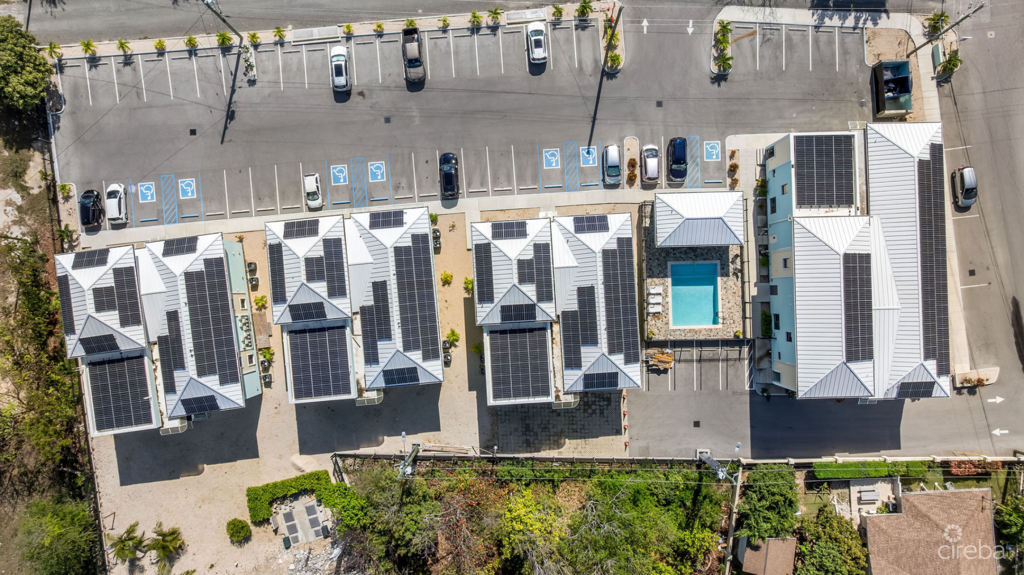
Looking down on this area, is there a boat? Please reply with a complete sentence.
No, the picture doesn't show any boat.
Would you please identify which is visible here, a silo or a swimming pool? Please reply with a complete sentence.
Visible in the photo is a swimming pool.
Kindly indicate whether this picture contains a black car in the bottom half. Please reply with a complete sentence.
No, in the bottom half there is no black car.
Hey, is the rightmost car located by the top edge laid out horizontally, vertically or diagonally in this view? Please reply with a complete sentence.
In this picture, the rightmost car located by the top edge is oriented vertically.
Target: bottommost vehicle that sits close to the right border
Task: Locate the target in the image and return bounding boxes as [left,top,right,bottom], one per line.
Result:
[949,167,976,206]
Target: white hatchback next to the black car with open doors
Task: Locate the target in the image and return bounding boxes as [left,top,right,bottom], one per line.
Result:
[104,184,130,224]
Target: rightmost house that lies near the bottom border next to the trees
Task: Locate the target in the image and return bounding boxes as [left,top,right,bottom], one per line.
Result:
[857,485,999,575]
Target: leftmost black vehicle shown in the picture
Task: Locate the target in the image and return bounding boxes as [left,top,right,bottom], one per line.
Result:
[77,191,107,228]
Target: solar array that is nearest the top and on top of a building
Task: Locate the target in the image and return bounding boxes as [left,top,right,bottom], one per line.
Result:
[796,136,853,207]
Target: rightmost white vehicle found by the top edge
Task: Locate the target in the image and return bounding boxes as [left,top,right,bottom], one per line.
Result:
[526,22,548,65]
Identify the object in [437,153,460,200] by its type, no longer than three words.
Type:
car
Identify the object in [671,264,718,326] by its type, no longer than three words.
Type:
swimming pool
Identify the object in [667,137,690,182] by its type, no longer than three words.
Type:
car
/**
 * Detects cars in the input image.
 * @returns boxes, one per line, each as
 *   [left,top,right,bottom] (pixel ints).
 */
[640,145,660,183]
[667,137,690,182]
[437,153,460,200]
[602,145,624,185]
[949,167,976,206]
[104,184,130,224]
[526,22,548,65]
[327,46,353,92]
[77,191,107,228]
[303,173,324,209]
